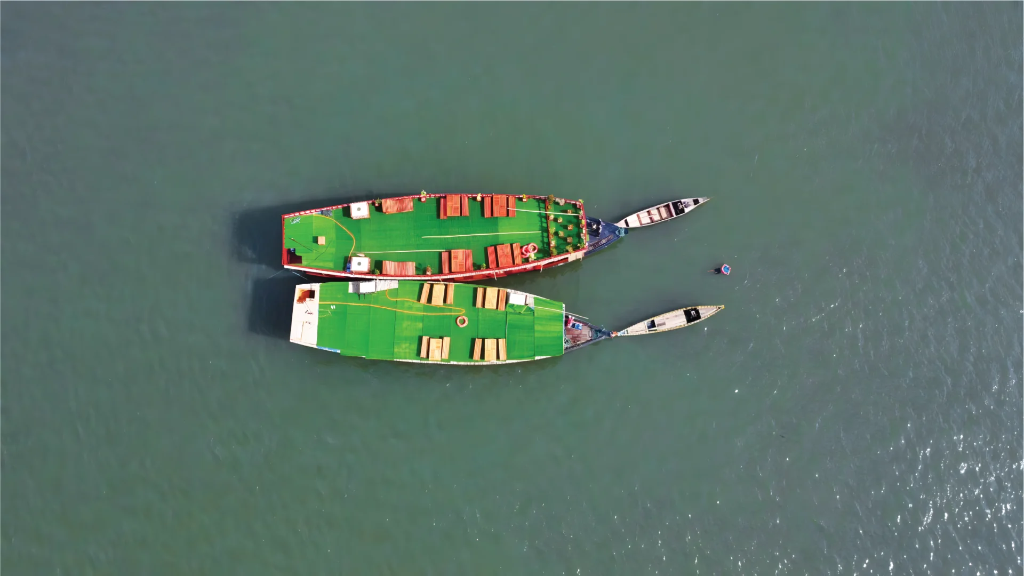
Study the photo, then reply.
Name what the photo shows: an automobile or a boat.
boat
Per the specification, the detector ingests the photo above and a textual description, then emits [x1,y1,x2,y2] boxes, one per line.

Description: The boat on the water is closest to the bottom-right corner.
[619,305,725,335]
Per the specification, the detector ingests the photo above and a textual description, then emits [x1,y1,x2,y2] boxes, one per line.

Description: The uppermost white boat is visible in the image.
[616,196,712,228]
